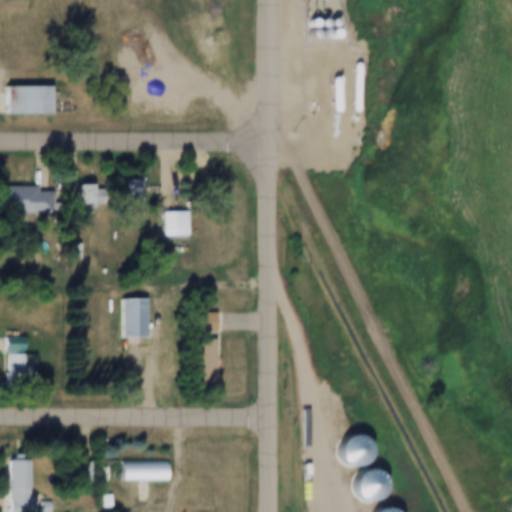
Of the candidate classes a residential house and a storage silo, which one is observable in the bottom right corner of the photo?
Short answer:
storage silo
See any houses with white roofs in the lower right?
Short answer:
No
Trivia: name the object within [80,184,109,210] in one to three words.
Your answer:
house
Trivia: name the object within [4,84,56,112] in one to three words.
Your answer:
shed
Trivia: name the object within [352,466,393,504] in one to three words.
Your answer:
silo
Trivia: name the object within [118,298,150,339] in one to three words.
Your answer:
building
